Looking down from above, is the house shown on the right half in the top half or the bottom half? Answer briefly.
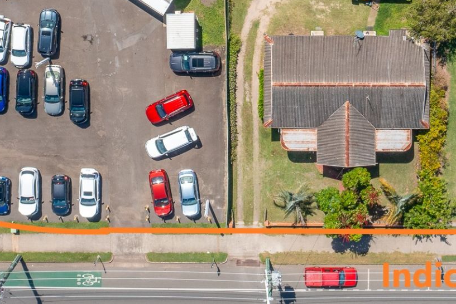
top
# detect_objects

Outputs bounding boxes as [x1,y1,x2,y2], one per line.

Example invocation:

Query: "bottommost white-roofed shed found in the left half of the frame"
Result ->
[166,14,198,50]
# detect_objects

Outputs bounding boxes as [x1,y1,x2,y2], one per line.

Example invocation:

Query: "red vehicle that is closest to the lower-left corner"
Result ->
[149,169,174,217]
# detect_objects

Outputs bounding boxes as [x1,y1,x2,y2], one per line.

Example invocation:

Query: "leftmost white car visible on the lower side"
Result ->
[17,167,41,217]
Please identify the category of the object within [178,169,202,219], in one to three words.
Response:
car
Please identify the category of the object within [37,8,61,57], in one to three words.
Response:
car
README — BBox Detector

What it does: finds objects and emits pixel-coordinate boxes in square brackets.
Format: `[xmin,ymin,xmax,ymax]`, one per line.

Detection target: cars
[146,90,193,123]
[77,168,100,218]
[68,79,90,123]
[42,66,65,115]
[0,68,8,113]
[50,174,71,215]
[0,14,13,63]
[145,126,199,157]
[17,167,41,217]
[0,177,12,214]
[149,169,174,217]
[178,169,202,219]
[14,70,38,115]
[169,50,221,74]
[7,21,32,68]
[37,8,61,57]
